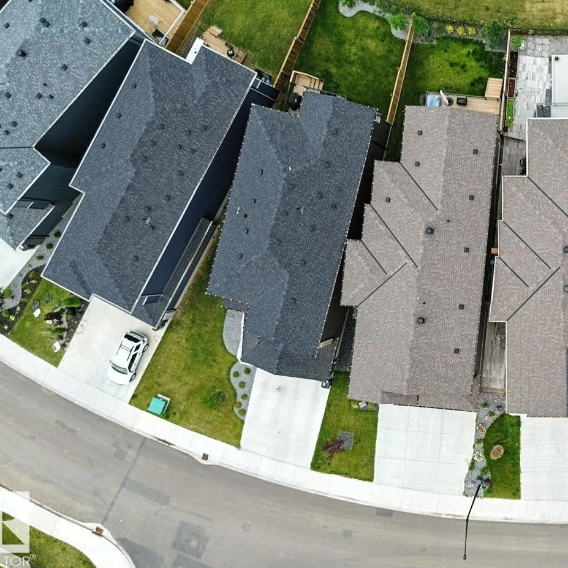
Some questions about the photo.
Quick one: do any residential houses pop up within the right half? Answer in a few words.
Yes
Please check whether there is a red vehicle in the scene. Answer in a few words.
No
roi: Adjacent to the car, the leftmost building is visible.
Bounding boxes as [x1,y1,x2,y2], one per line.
[40,37,269,330]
